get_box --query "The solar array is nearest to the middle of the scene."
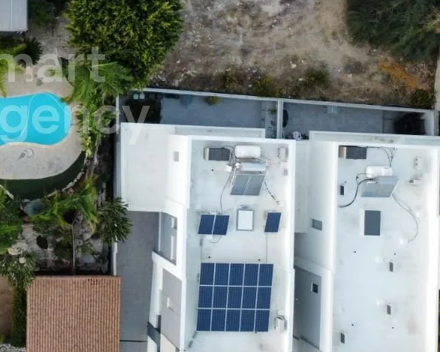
[197,214,229,235]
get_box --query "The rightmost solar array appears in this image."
[264,211,282,232]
